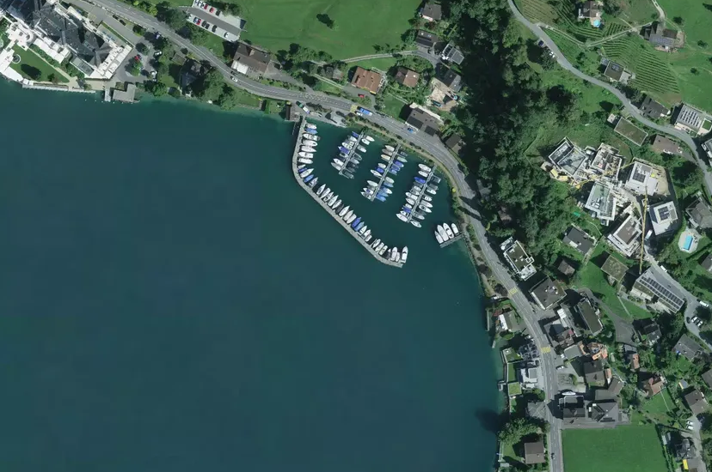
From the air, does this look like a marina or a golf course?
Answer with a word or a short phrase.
marina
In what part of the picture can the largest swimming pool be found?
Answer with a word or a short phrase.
right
